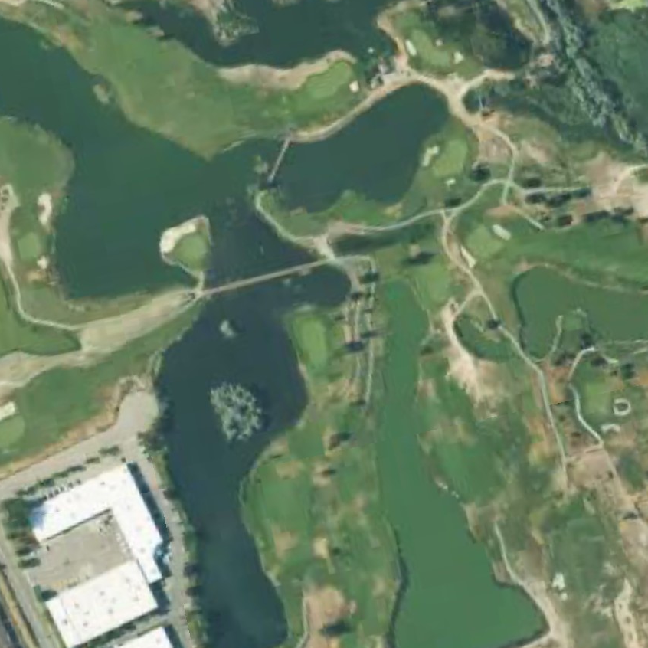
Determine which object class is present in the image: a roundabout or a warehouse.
warehouse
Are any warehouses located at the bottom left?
Yes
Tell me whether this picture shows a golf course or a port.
golf course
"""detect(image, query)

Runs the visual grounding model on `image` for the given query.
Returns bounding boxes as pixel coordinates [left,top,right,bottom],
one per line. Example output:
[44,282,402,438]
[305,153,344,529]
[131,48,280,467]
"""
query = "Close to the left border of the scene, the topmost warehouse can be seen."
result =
[31,465,162,583]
